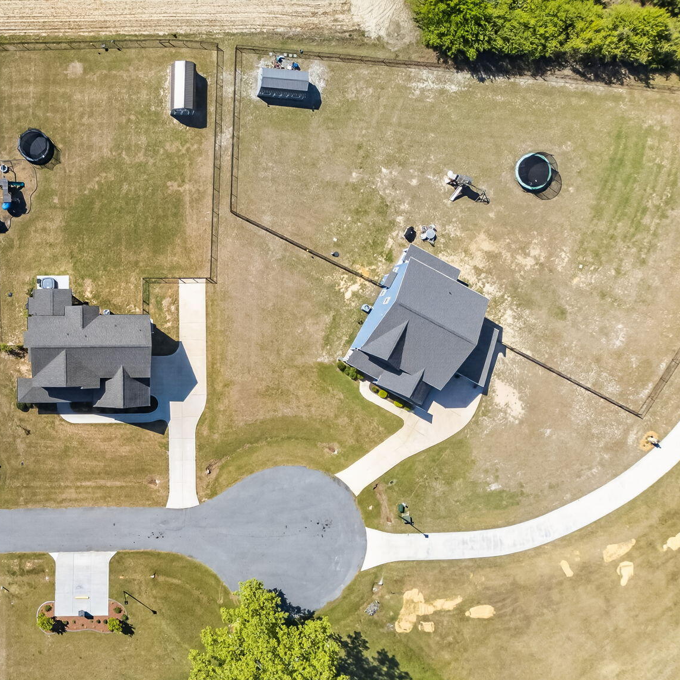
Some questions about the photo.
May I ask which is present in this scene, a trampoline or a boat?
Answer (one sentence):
The one in the frame is a trampoline.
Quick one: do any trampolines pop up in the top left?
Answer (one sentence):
Yes, the scene does show a trampoline in the top left.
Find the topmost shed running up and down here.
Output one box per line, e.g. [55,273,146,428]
[169,61,197,116]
